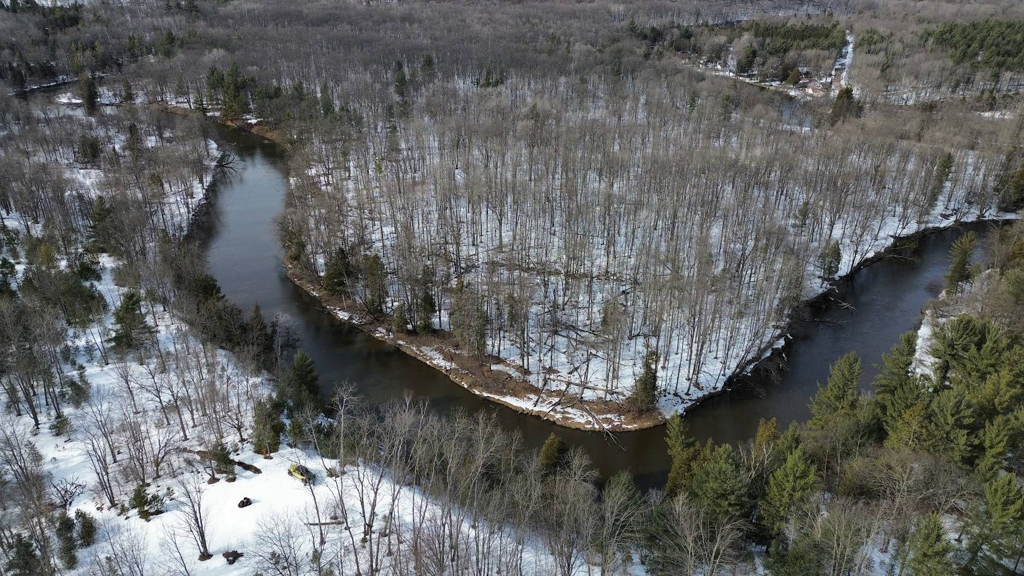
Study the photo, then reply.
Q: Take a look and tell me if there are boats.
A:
No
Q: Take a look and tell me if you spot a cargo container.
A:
No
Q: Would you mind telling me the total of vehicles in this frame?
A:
1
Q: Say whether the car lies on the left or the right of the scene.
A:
left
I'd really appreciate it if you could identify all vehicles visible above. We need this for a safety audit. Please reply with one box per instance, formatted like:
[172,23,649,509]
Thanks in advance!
[287,464,315,484]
